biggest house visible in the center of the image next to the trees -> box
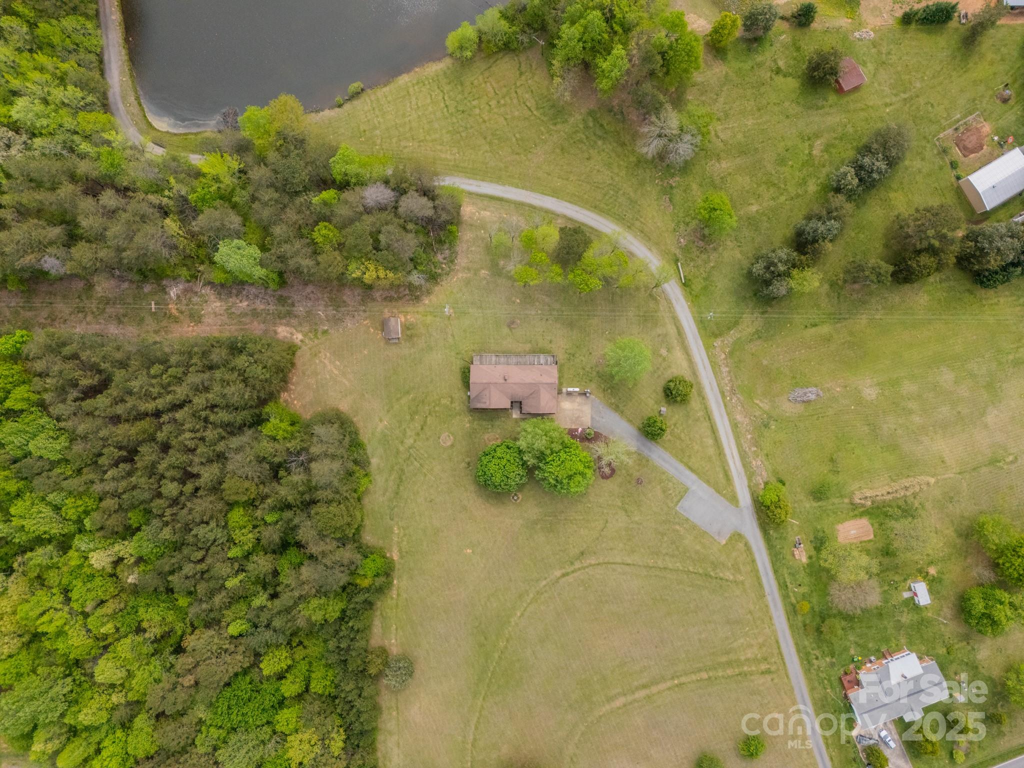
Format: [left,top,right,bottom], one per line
[470,353,558,414]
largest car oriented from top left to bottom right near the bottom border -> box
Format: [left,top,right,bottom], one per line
[879,728,901,753]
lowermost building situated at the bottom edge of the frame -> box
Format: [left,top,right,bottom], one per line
[834,641,949,730]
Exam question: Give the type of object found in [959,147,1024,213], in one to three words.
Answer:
barn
